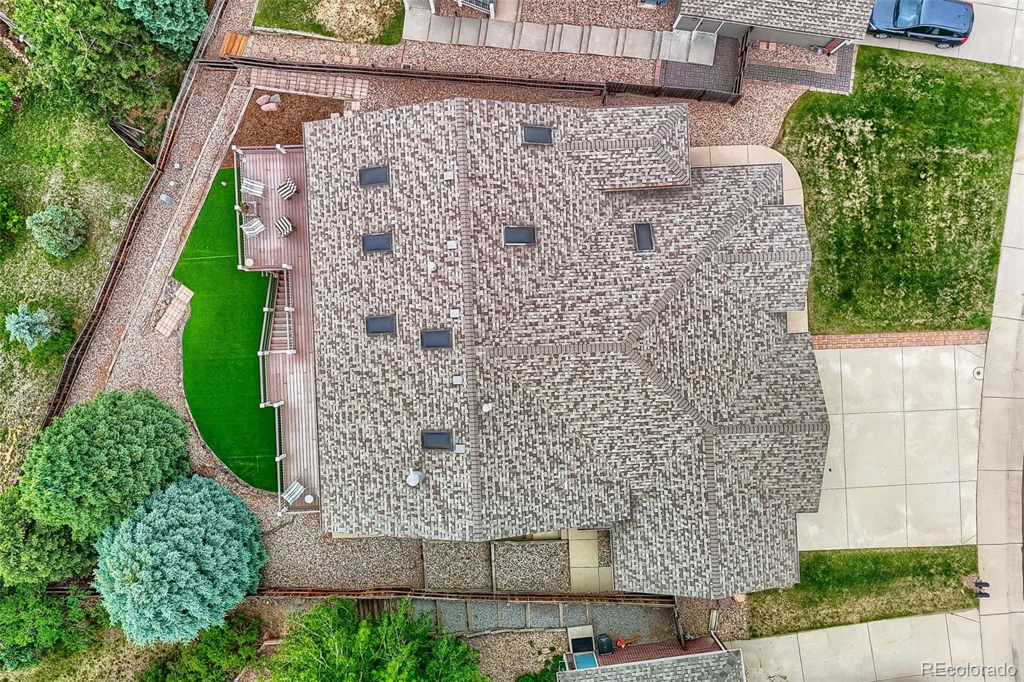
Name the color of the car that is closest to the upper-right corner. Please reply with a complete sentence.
The color of the car that is closest to the upper-right corner is blue.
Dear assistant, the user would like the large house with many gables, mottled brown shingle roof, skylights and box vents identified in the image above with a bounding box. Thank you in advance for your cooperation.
[299,96,830,599]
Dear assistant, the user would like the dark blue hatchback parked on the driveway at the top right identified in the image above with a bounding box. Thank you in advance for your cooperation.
[867,0,981,51]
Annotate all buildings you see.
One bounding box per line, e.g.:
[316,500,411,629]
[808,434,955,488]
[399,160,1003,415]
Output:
[553,633,747,682]
[670,0,876,52]
[299,96,830,599]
